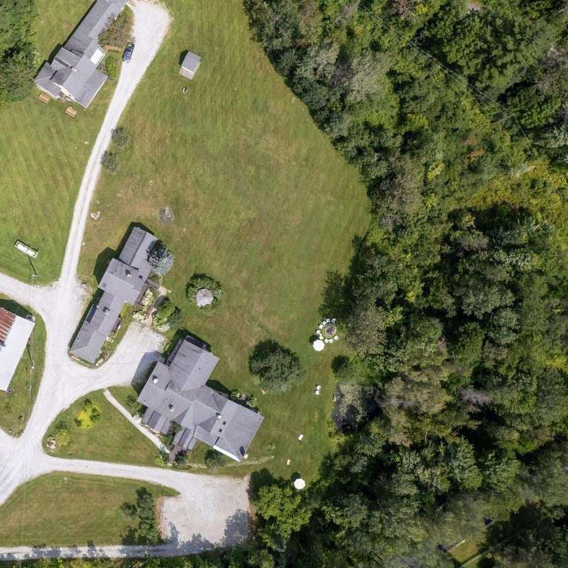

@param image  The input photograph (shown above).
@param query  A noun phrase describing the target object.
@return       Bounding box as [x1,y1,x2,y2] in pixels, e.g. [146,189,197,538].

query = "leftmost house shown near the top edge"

[36,0,127,109]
